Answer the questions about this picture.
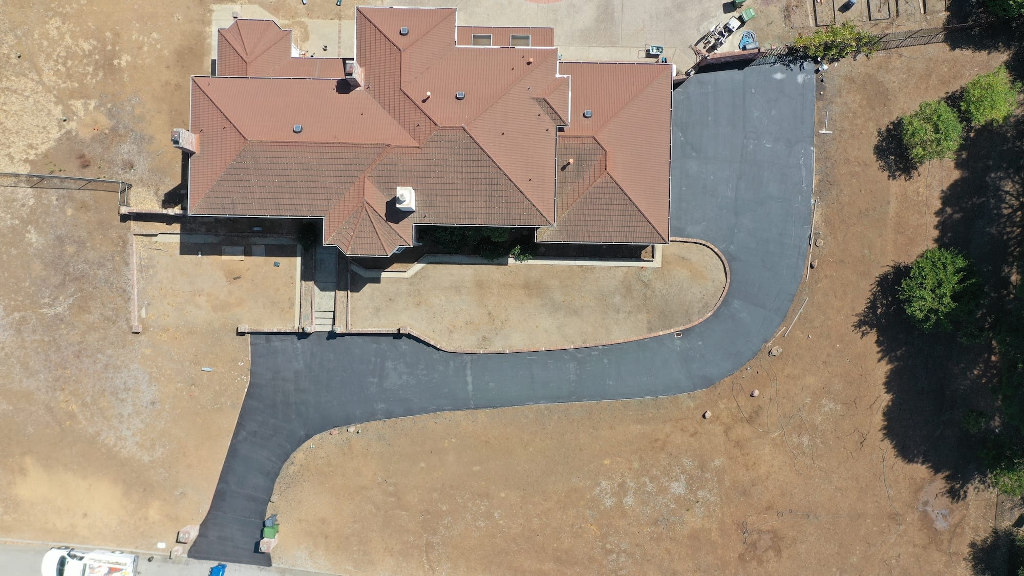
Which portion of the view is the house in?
top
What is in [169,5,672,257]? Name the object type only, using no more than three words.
house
